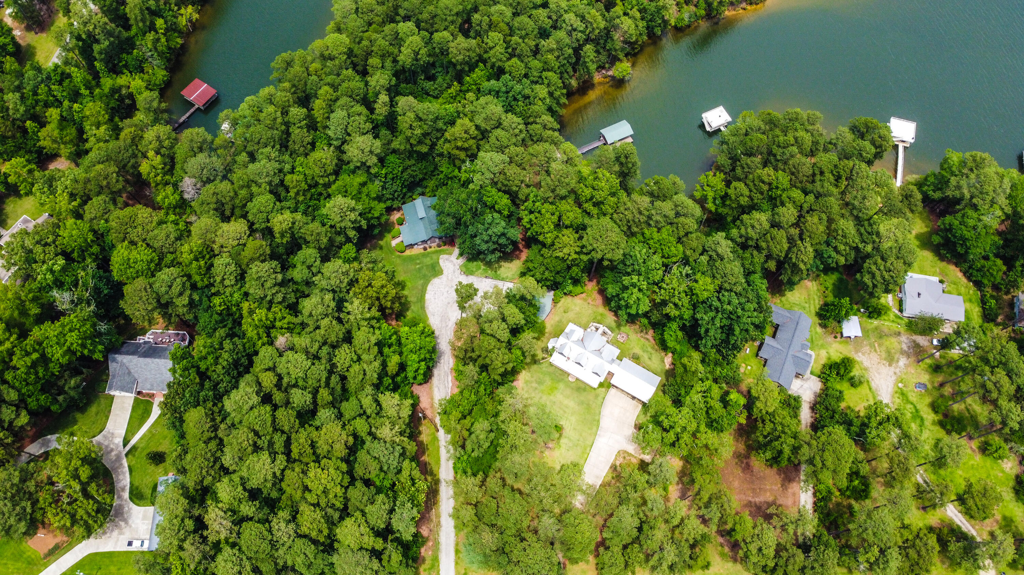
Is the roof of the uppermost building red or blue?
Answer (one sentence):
The color of the roof of the uppermost building is red.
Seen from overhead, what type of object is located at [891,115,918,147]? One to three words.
pier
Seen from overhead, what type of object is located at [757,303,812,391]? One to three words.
house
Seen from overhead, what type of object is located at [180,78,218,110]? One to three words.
building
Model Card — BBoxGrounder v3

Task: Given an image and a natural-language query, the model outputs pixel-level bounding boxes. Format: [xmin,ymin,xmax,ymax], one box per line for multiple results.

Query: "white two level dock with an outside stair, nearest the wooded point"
[702,104,732,132]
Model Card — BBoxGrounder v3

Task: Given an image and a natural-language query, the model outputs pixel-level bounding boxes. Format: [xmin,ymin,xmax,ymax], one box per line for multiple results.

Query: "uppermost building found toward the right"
[600,120,633,147]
